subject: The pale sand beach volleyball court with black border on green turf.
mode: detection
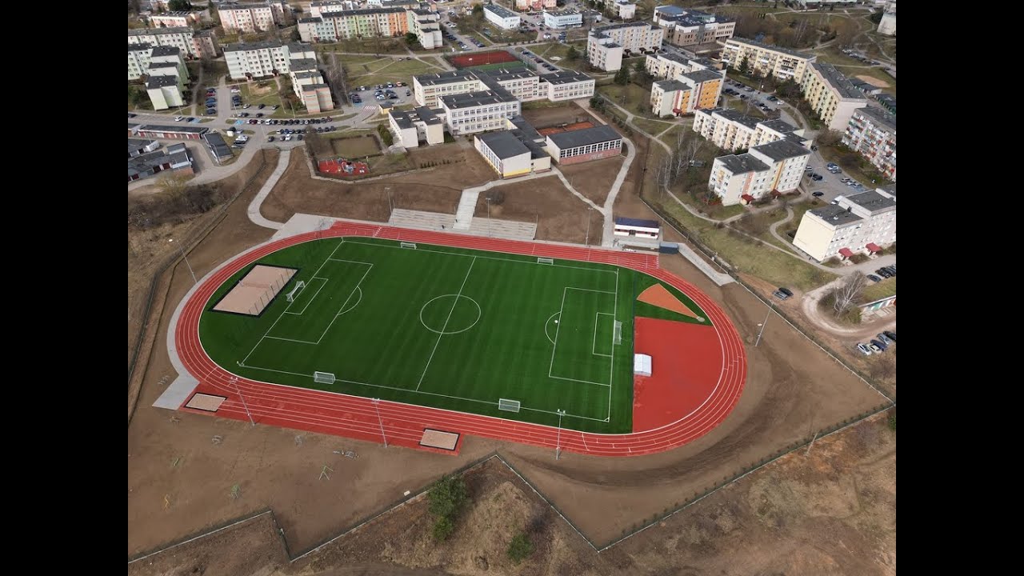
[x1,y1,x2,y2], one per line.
[210,264,299,318]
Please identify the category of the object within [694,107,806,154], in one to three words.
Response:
building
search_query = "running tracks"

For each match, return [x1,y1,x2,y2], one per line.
[176,227,746,455]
